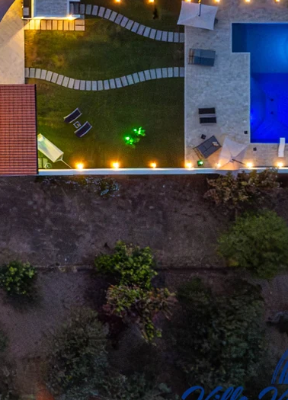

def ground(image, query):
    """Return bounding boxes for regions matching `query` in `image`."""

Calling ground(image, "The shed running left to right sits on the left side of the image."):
[30,0,80,21]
